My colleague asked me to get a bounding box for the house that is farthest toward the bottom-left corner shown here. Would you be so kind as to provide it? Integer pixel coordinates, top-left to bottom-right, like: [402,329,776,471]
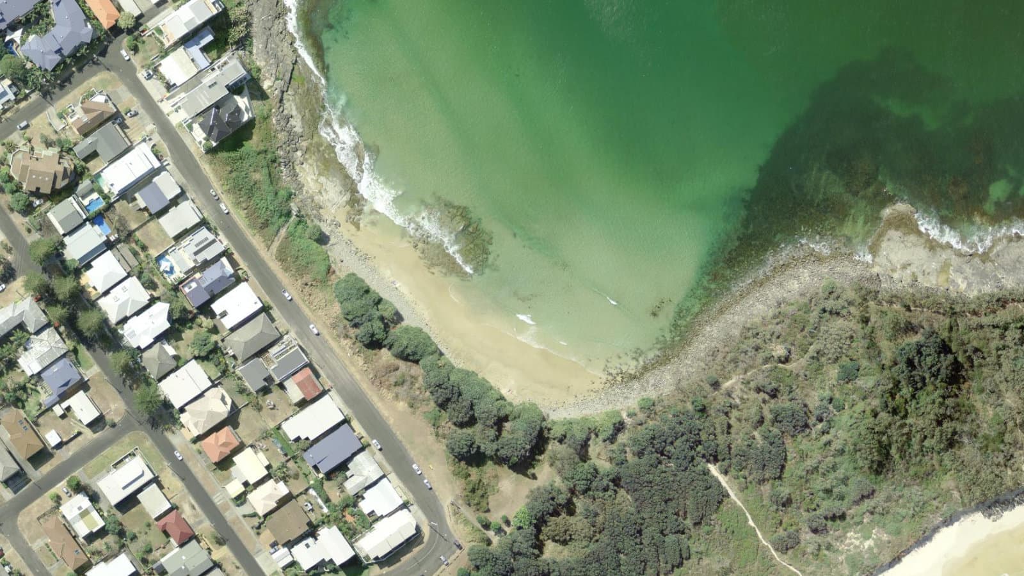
[40,516,86,571]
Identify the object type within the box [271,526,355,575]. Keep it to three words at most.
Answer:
house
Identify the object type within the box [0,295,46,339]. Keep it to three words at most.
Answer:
house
